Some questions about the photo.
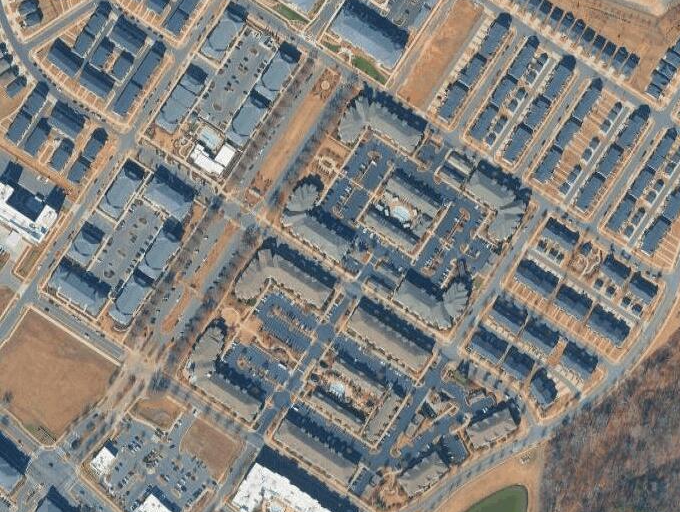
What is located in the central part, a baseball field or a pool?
pool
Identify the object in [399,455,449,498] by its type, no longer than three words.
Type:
building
